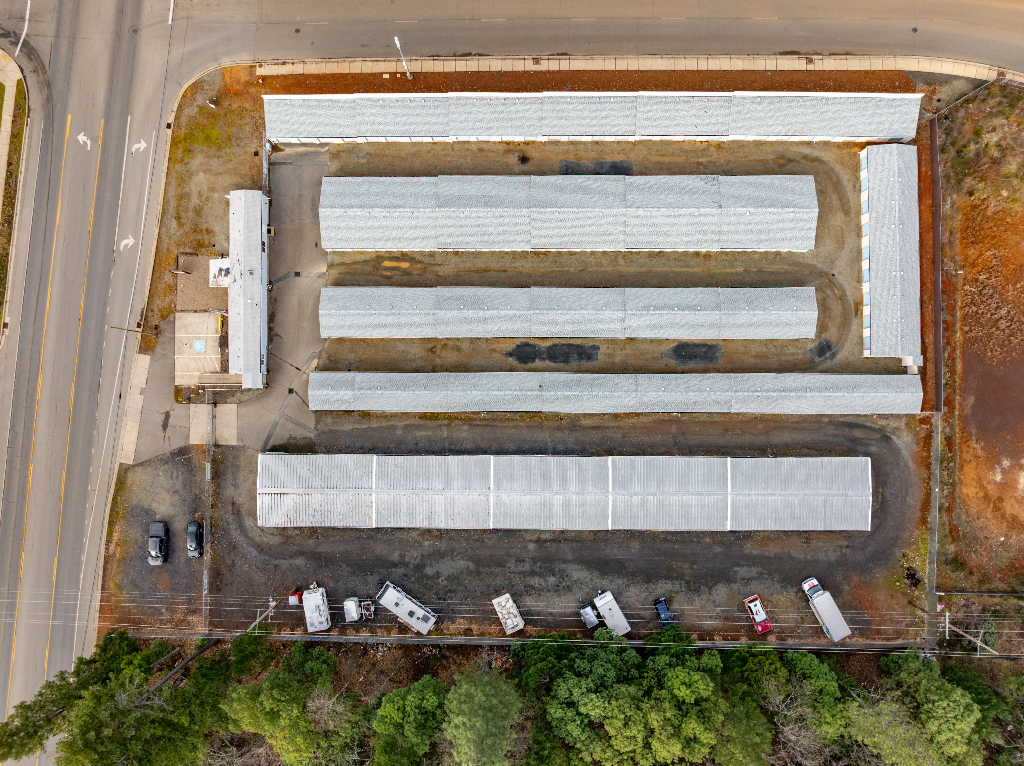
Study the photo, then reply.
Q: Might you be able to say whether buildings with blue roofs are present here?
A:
No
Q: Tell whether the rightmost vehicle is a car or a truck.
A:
truck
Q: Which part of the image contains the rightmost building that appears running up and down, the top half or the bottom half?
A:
top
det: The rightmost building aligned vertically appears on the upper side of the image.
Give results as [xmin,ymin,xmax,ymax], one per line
[859,143,922,366]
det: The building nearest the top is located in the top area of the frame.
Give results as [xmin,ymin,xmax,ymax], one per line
[262,91,924,145]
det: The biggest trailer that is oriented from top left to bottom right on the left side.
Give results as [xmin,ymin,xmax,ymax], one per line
[376,579,439,635]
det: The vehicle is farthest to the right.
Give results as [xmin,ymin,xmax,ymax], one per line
[800,576,851,642]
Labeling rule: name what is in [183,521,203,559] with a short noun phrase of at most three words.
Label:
car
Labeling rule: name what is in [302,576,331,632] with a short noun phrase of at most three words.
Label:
trailer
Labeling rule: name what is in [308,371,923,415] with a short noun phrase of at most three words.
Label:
building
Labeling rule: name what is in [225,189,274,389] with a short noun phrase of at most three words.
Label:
building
